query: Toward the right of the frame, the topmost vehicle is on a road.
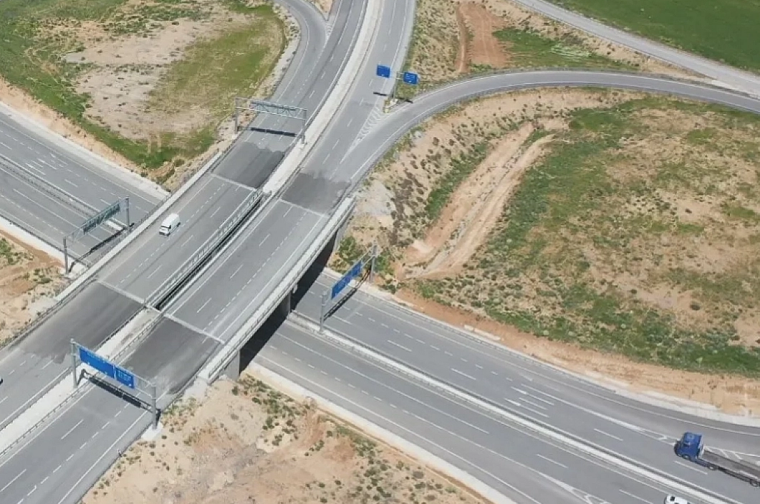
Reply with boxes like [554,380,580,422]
[678,435,760,486]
